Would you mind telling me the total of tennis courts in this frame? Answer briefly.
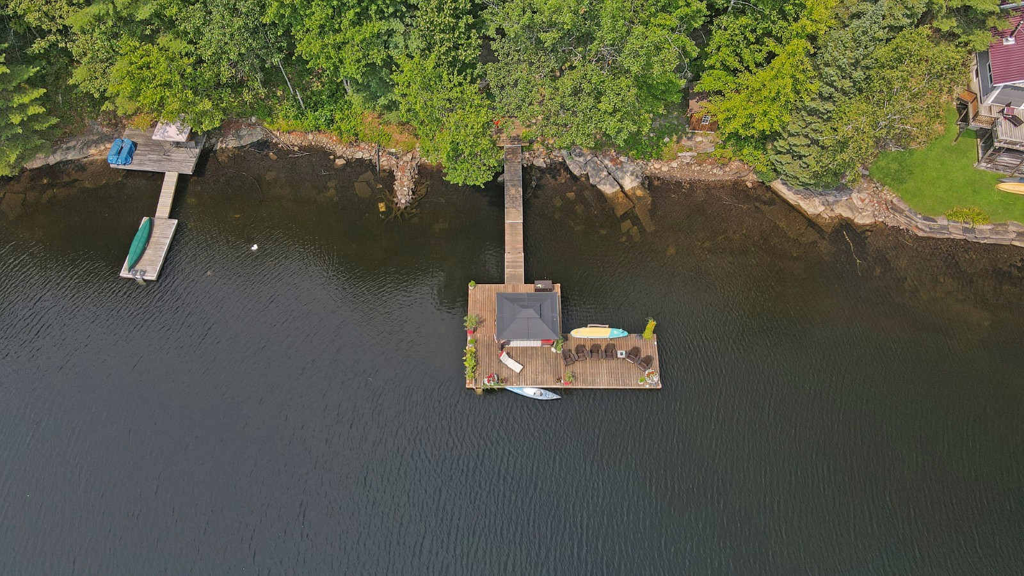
0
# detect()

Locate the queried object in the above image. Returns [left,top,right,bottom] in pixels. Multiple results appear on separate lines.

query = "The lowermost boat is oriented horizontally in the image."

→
[507,385,562,401]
